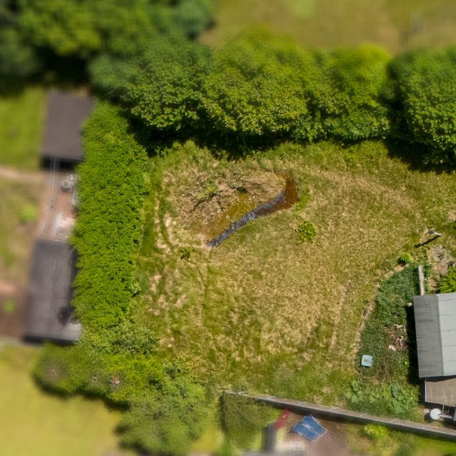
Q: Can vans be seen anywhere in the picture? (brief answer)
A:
No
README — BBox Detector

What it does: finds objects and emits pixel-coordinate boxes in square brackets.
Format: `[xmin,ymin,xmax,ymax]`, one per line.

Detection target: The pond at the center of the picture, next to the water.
[197,172,302,247]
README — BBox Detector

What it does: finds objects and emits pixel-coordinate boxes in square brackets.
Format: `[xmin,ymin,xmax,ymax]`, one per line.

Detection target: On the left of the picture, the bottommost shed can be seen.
[25,240,82,342]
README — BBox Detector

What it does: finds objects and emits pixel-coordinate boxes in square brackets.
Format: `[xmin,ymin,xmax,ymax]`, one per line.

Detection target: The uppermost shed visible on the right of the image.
[413,293,456,378]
